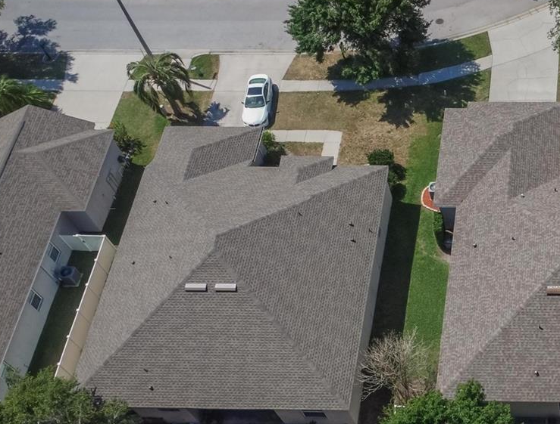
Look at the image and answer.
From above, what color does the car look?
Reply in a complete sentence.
In this view, the car is white.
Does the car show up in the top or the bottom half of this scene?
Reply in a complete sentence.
You can find the car in the top half.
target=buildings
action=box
[433,102,560,416]
[66,125,391,423]
[0,106,127,416]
